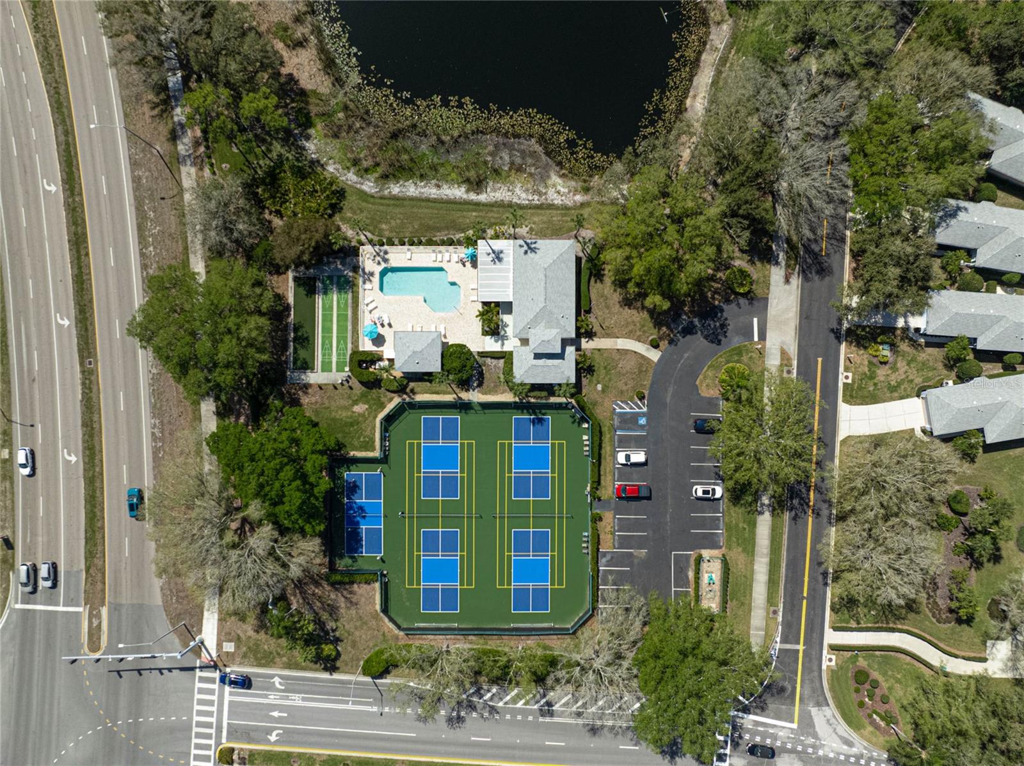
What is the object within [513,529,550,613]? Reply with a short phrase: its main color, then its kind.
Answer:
blue sports court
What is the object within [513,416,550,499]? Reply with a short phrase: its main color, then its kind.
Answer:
blue sports court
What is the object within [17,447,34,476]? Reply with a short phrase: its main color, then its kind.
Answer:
white car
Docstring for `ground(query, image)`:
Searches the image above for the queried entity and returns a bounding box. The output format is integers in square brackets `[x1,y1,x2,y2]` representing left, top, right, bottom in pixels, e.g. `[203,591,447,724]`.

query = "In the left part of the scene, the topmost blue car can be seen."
[127,488,143,518]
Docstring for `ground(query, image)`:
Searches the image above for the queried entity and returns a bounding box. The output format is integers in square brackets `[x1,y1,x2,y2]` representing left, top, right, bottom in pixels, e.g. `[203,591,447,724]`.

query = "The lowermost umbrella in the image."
[363,324,378,339]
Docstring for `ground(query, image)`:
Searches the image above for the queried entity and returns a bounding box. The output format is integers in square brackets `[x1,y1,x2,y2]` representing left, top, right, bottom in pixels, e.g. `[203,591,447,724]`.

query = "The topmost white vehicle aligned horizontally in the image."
[617,451,646,465]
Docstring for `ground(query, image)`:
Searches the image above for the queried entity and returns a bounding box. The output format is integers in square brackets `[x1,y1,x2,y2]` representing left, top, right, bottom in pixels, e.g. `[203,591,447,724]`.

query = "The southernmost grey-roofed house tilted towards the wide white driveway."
[920,374,1024,440]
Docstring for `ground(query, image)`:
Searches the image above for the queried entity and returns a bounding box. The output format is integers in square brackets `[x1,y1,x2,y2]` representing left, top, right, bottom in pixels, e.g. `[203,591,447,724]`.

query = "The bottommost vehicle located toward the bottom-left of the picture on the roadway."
[221,673,250,689]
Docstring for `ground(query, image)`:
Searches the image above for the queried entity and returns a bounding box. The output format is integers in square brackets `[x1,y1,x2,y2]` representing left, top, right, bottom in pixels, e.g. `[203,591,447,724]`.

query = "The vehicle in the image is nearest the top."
[693,419,722,432]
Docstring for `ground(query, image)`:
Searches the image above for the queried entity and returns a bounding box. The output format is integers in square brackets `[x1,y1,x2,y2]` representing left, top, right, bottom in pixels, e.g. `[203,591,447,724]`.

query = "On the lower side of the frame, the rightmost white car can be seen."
[692,485,721,499]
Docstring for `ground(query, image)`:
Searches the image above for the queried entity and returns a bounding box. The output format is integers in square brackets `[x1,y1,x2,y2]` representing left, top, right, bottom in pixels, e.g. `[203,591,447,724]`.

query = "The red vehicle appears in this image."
[615,484,649,499]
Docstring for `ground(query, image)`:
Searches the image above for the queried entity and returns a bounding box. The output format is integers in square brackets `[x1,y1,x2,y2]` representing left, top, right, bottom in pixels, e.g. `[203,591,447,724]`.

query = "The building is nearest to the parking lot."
[513,240,579,384]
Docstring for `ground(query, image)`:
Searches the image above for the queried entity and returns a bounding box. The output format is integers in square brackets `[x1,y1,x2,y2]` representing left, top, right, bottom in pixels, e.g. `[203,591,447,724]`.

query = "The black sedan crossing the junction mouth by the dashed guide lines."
[745,742,775,759]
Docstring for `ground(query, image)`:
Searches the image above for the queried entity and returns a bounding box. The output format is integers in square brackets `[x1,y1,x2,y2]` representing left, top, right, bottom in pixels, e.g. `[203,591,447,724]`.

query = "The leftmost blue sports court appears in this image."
[342,473,384,555]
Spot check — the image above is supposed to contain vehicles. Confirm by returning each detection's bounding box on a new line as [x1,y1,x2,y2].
[615,484,649,499]
[745,742,775,759]
[40,561,57,588]
[617,451,646,465]
[19,561,37,593]
[693,419,722,432]
[692,485,721,499]
[221,673,250,689]
[17,447,34,476]
[127,488,143,518]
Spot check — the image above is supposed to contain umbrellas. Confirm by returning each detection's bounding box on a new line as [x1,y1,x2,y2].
[363,324,378,339]
[463,247,477,262]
